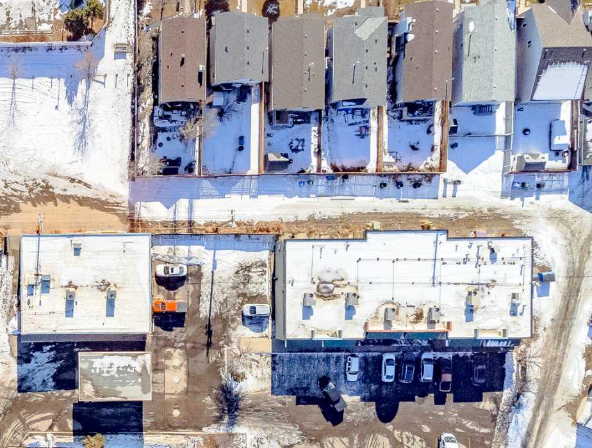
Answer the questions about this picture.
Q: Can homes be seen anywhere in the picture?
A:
Yes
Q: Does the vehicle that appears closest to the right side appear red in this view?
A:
No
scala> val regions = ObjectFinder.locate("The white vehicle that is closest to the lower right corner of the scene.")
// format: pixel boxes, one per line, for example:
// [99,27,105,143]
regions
[570,391,592,431]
